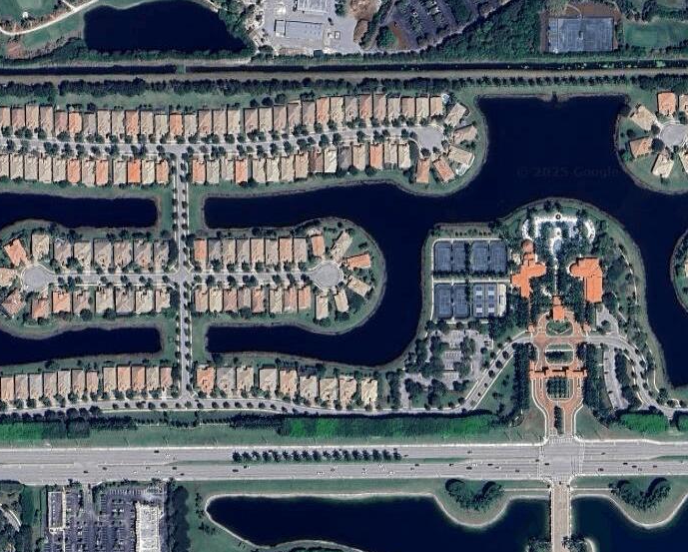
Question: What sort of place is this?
residential area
